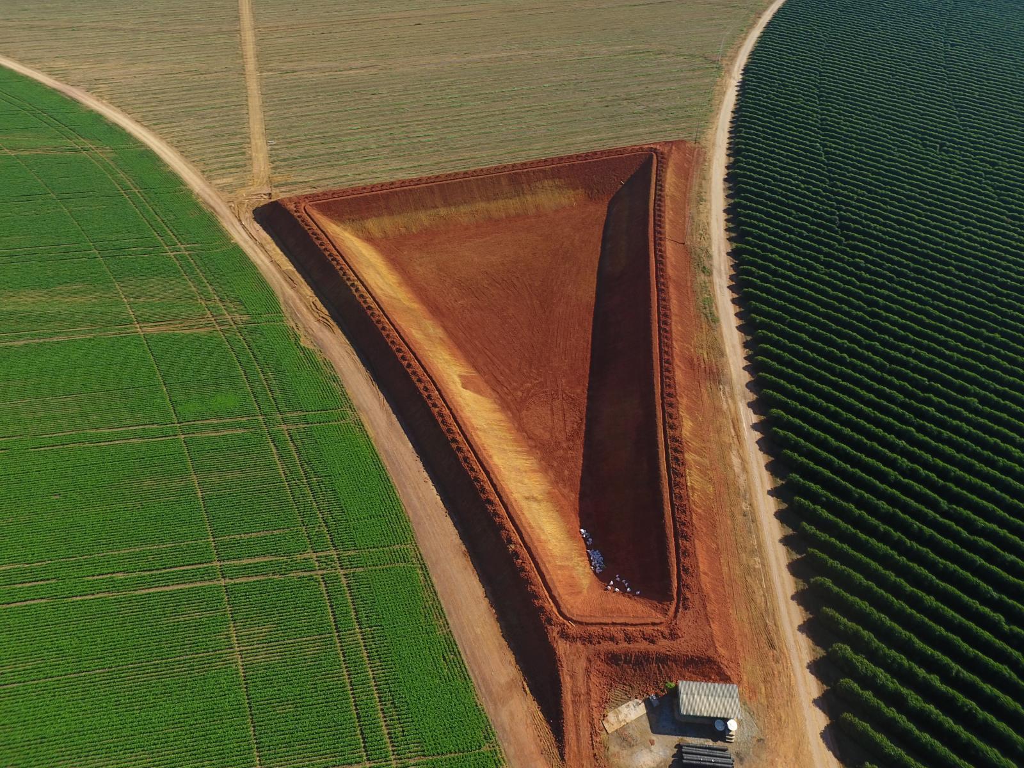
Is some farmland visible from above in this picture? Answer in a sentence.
Yes, the picture does contain farmland.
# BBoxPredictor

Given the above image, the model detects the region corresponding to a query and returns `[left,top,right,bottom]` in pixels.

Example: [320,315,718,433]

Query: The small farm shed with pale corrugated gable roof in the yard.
[678,681,742,723]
